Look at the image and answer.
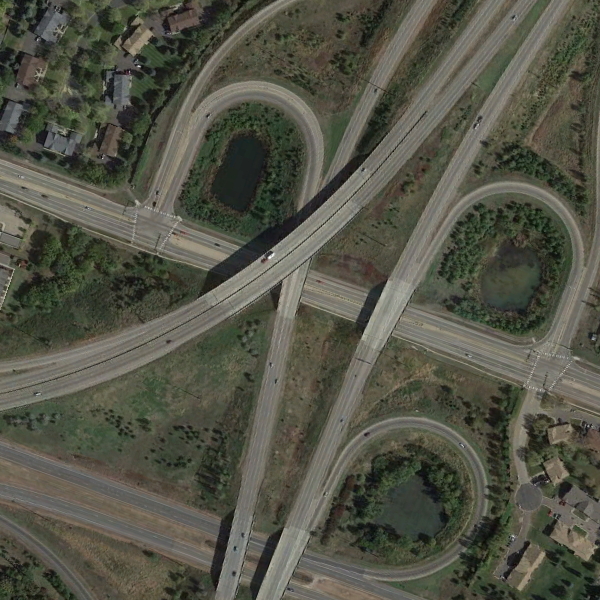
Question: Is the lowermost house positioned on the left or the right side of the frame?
right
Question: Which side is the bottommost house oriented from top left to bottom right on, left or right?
right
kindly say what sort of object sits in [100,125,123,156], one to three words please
house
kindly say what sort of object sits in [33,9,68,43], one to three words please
house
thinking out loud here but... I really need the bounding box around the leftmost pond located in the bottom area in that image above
[374,471,448,543]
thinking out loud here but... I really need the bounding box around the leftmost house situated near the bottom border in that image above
[507,543,546,589]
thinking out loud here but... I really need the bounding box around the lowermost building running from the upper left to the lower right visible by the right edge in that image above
[550,519,598,560]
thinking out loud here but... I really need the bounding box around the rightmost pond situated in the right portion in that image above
[480,241,544,317]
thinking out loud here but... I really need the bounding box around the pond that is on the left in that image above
[207,129,271,213]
